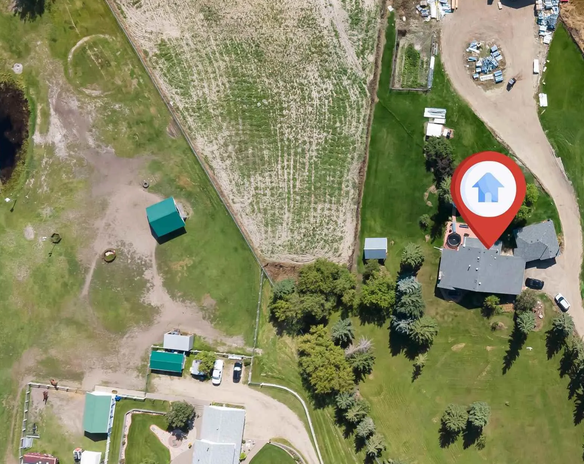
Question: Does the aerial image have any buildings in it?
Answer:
Yes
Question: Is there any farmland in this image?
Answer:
Yes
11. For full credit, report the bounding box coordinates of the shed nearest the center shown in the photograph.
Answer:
[364,238,389,259]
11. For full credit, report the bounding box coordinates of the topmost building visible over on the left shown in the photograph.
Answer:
[145,196,189,237]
